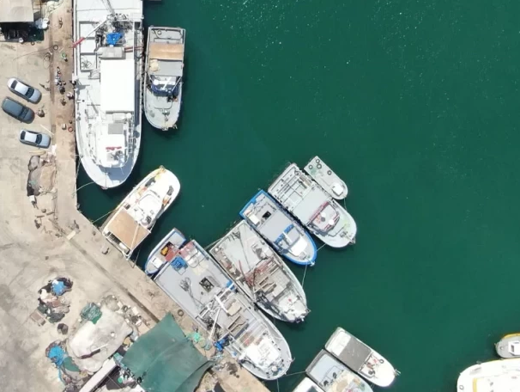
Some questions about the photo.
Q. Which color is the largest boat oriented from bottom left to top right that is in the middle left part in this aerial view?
white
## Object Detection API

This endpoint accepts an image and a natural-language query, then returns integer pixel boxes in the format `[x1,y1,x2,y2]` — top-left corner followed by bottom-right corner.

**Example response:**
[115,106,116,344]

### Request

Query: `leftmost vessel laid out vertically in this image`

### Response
[71,0,145,190]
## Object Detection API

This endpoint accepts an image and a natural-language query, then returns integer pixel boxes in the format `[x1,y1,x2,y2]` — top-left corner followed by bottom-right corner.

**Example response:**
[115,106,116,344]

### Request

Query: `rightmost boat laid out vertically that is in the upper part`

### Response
[144,28,186,131]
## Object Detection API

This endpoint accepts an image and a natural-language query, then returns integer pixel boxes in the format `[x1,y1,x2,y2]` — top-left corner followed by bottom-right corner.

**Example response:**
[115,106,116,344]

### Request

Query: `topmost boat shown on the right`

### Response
[302,157,348,203]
